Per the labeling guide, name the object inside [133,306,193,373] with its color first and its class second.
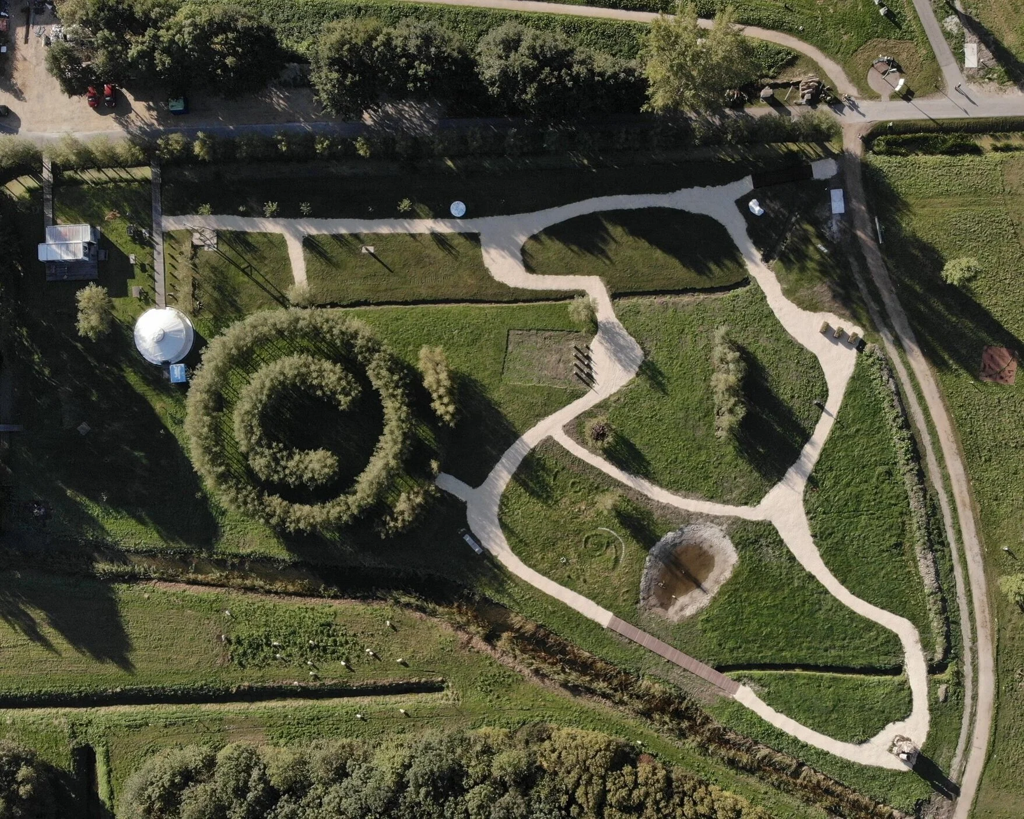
white tent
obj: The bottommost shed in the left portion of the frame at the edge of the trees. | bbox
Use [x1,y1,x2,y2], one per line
[166,364,185,383]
